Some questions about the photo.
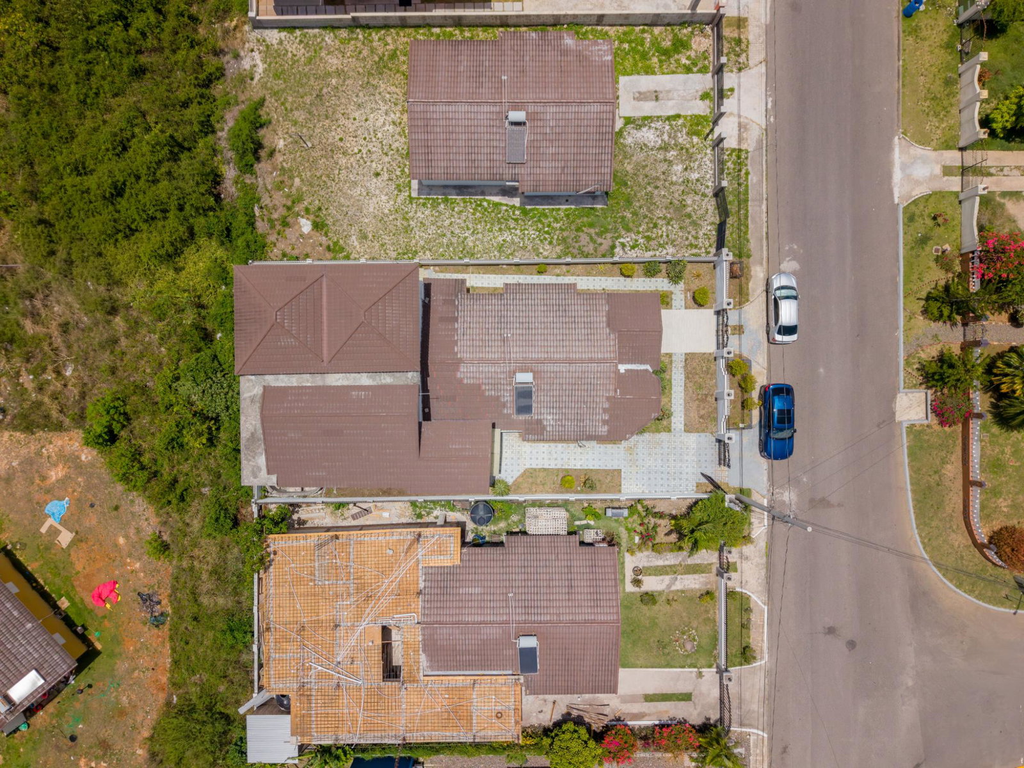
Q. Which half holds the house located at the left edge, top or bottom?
bottom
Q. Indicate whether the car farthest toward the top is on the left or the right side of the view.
right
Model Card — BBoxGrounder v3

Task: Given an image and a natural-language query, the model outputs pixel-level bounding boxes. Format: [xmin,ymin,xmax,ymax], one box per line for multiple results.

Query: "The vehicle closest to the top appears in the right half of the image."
[764,273,802,345]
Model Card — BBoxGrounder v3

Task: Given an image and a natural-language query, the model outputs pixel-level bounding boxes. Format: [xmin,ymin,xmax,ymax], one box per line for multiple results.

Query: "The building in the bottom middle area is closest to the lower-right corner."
[415,533,623,696]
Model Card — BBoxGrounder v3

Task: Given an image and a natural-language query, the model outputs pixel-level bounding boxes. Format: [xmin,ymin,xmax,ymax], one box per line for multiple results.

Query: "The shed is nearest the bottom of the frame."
[247,702,304,763]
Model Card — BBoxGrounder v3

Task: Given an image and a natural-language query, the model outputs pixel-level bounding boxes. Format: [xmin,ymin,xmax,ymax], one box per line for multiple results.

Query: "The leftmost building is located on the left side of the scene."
[0,544,92,738]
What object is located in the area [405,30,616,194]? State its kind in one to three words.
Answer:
house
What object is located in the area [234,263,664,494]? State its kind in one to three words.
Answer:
house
